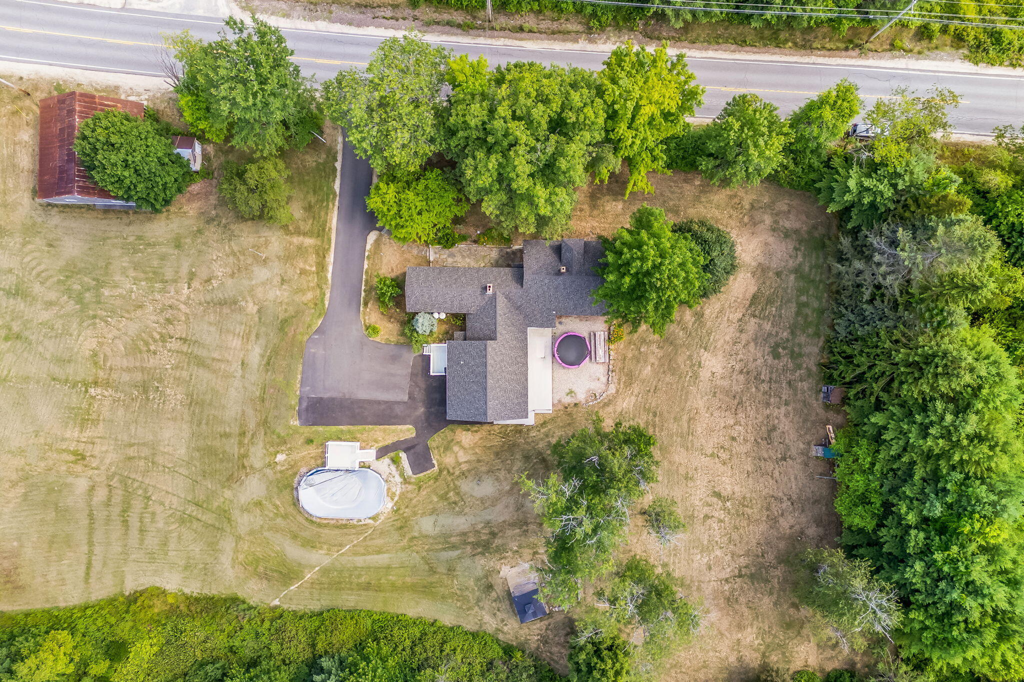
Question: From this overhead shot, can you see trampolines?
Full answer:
Yes, a trampoline is visible in the scene.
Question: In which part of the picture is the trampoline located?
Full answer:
Look in the center portion of the view to spot the trampoline.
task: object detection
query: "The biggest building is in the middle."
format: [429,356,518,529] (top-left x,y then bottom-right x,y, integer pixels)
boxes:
[405,239,611,422]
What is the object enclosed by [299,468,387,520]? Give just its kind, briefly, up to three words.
swimming pool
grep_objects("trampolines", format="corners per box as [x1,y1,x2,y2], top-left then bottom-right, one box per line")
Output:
[554,332,591,369]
